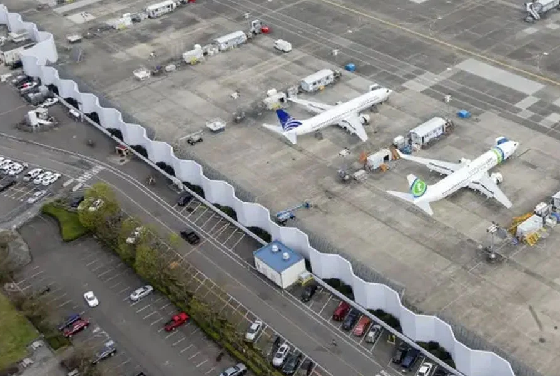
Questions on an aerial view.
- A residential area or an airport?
airport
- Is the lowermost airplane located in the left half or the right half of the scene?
right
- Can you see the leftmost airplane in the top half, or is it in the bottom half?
top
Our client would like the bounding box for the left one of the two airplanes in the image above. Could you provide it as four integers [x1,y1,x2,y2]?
[276,88,391,146]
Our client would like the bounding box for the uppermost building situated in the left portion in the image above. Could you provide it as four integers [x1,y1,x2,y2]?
[143,0,176,21]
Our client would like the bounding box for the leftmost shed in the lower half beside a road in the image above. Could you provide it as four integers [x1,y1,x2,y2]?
[252,237,306,289]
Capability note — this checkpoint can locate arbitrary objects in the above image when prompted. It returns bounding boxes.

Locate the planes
[276,88,391,146]
[400,141,518,214]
